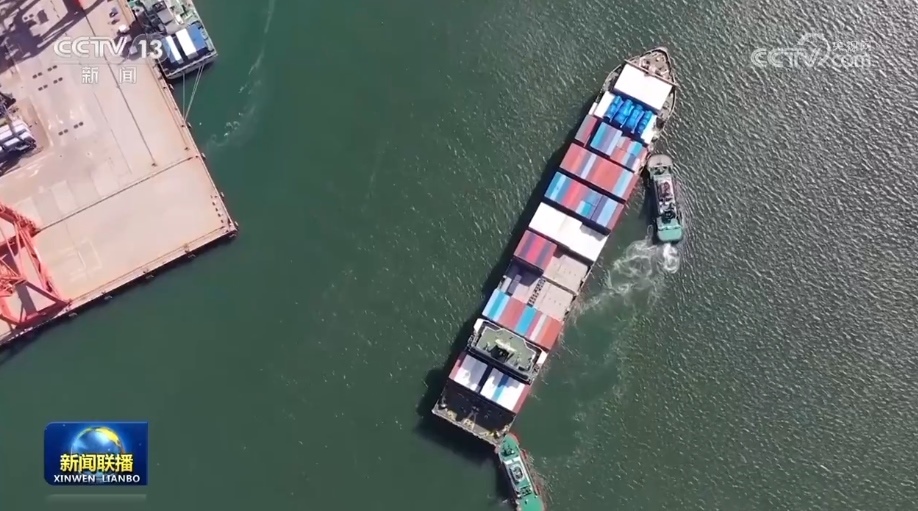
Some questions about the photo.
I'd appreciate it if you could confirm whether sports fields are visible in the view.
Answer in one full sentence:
No, I find no sports field anywhere in the image.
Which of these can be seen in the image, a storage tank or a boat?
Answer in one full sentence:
It is a boat that can be seen here.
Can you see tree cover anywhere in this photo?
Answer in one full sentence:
No, the picture contains no tree cover.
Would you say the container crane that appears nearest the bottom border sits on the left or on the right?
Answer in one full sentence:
You can find the container crane that appears nearest the bottom border on the left side of the picture.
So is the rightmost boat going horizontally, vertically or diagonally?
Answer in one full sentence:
The rightmost boat has been laid out vertically relative to the frame.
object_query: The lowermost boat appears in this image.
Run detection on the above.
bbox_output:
[498,433,545,511]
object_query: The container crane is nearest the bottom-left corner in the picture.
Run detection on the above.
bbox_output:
[0,202,74,332]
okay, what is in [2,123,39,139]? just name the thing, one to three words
vehicle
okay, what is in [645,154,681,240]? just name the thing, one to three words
boat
